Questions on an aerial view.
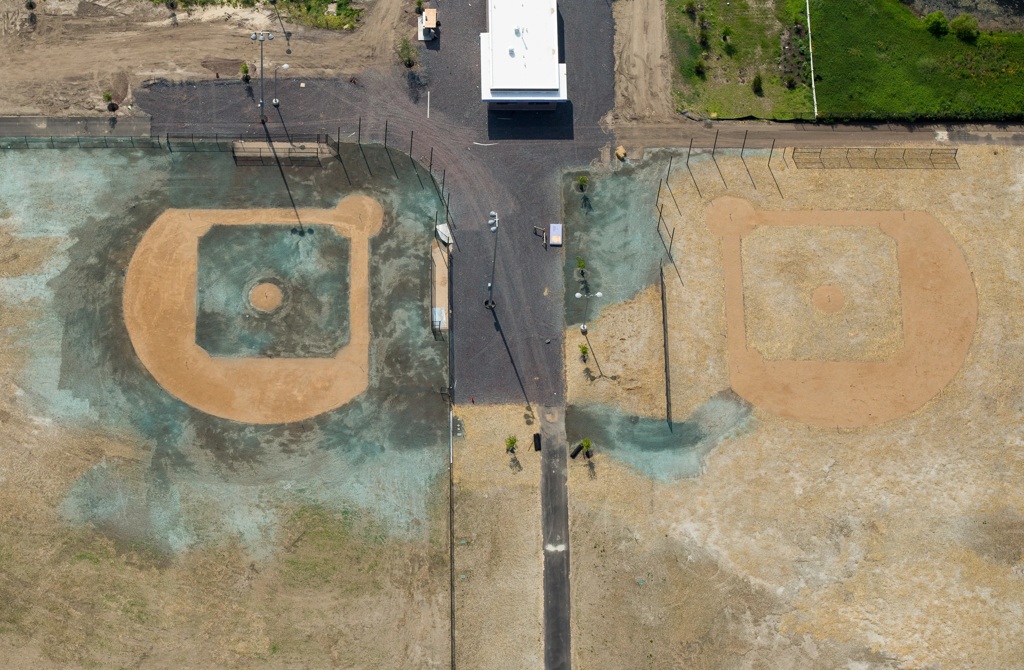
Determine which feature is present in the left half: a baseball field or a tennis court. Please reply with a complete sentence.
Looking in the left half, you will find a baseball field.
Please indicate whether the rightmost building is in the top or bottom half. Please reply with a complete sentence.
You can find the rightmost building in the top half.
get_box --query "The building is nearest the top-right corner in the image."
[479,0,567,110]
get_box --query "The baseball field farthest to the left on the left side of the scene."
[124,195,382,424]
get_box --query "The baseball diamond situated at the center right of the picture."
[705,196,977,428]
